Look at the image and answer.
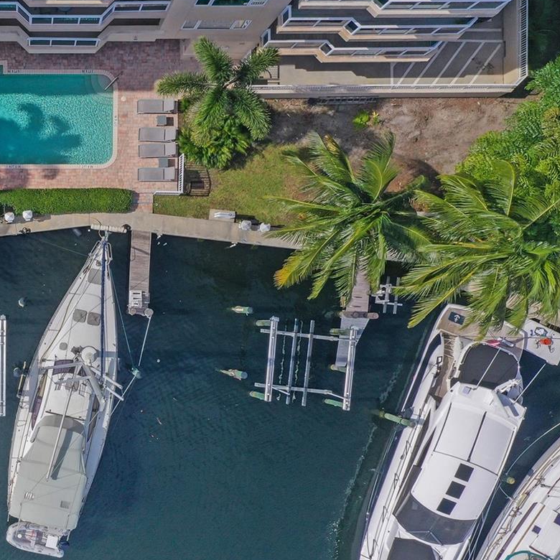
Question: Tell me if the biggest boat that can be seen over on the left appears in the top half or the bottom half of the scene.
bottom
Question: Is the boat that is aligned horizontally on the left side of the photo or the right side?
left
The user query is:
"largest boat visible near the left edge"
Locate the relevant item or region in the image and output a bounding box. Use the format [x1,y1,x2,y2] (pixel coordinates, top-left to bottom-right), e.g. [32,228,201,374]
[7,227,125,543]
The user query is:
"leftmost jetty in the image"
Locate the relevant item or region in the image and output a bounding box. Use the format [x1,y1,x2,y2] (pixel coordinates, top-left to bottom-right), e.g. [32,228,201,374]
[128,232,152,315]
